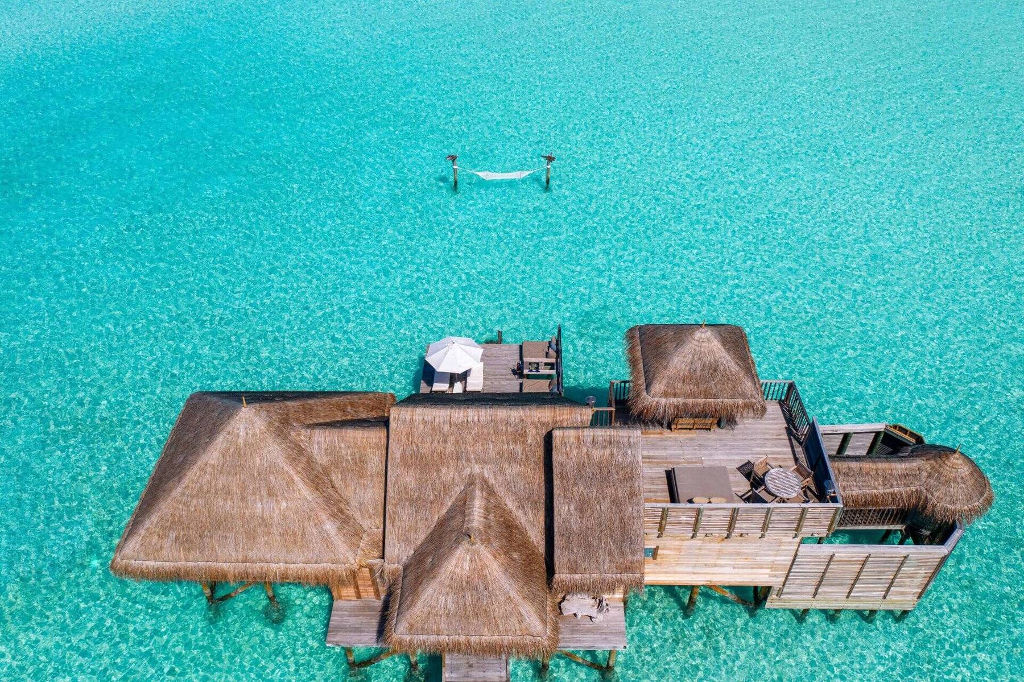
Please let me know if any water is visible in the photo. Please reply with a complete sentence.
Yes, there is water in the image.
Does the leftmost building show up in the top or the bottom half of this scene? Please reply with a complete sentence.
Seen from above, the leftmost building lies in the bottom half of the view.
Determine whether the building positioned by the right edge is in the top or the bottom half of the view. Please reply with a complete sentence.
The building positioned by the right edge is in the bottom half of the image.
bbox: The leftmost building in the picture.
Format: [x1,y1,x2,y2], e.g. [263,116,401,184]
[105,383,398,622]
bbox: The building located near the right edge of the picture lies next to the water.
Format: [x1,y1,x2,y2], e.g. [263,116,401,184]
[814,441,997,545]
